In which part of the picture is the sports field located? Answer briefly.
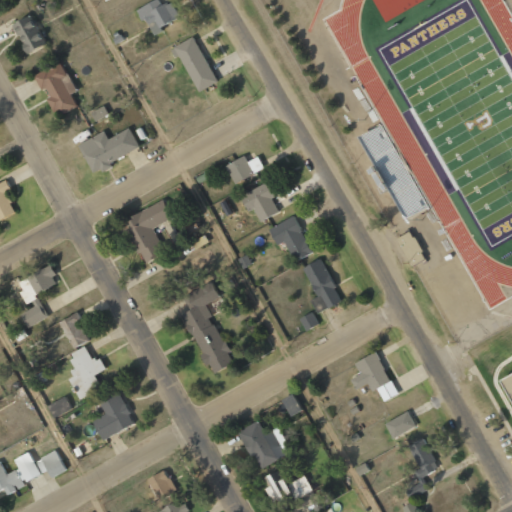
top right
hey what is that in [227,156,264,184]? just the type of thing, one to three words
house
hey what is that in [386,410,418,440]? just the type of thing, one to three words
house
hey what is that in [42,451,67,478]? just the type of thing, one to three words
building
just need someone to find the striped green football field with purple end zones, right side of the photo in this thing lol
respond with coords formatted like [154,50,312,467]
[360,0,512,264]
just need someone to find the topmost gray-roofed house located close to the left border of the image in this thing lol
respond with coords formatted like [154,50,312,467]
[14,14,48,53]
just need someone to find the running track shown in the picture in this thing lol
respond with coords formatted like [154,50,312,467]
[324,0,512,307]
